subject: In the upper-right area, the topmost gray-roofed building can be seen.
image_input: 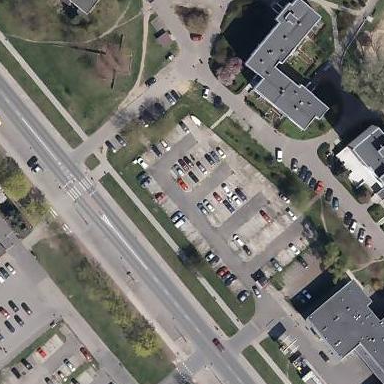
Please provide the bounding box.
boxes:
[246,0,329,132]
